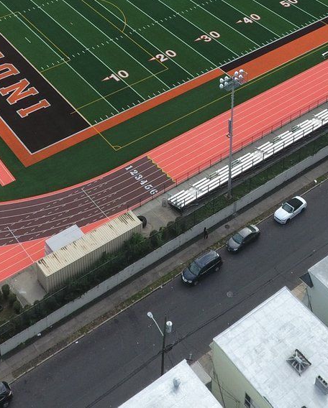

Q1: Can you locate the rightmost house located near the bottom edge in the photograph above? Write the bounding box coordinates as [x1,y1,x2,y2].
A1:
[202,283,328,408]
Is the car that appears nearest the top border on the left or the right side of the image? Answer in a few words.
right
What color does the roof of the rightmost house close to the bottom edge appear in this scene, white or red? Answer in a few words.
white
